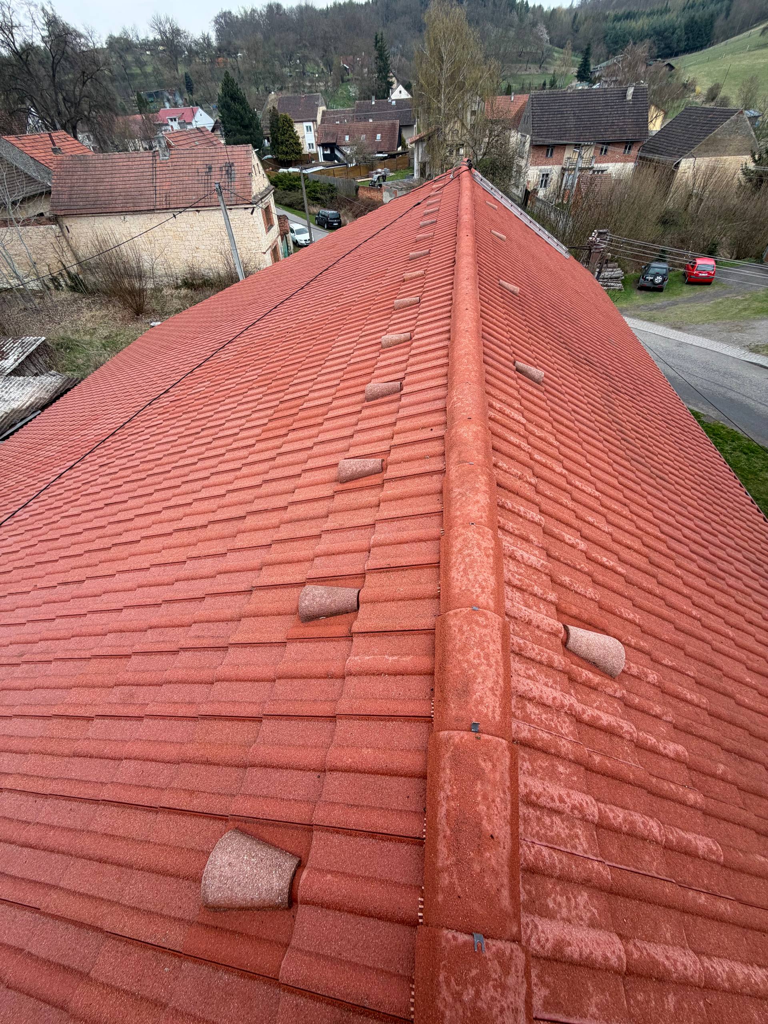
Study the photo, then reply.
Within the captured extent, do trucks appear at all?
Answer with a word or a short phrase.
No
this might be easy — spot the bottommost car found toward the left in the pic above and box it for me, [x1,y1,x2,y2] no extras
[288,217,314,244]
